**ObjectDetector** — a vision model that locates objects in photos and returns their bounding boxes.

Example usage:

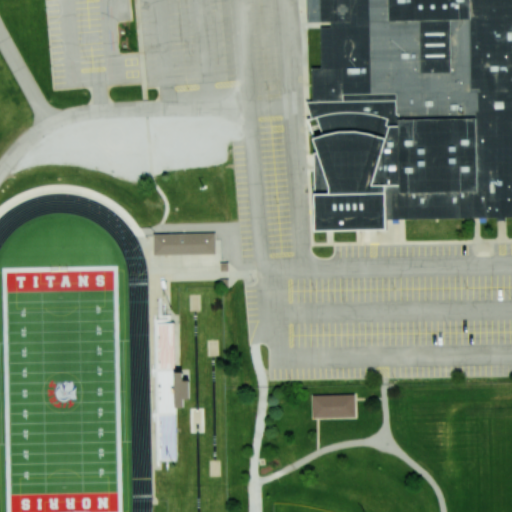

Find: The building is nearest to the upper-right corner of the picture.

[308,0,512,230]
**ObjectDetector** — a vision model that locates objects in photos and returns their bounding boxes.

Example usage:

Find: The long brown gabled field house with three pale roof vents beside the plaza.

[154,233,215,255]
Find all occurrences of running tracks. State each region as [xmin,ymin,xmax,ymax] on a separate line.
[0,184,160,512]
